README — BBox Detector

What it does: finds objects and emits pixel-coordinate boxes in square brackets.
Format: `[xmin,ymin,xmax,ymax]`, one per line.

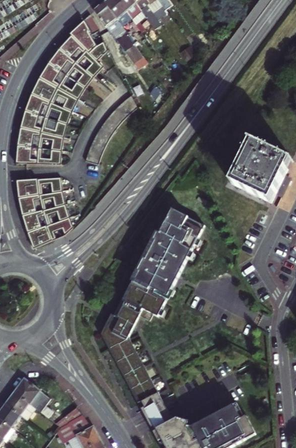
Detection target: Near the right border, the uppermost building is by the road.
[226,131,290,202]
